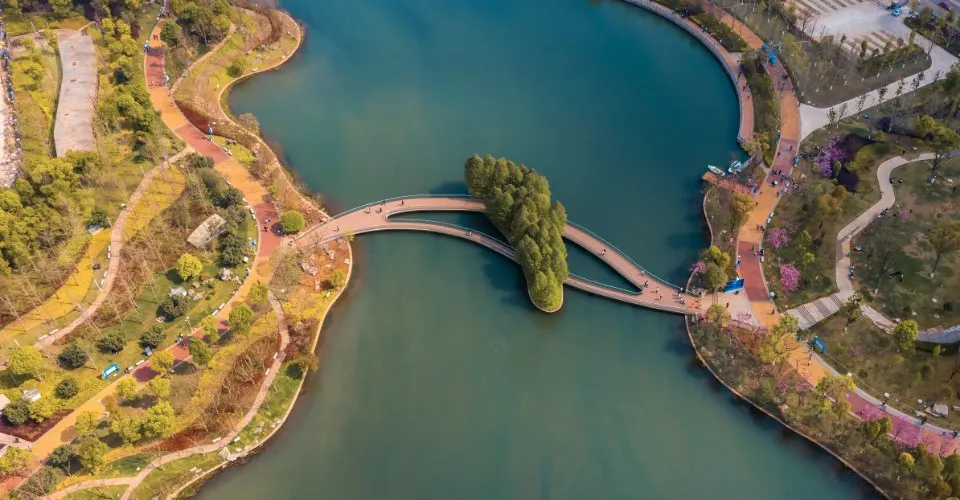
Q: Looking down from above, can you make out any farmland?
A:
No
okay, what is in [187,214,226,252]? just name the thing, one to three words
building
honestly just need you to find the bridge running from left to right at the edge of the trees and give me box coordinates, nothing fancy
[295,194,701,318]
